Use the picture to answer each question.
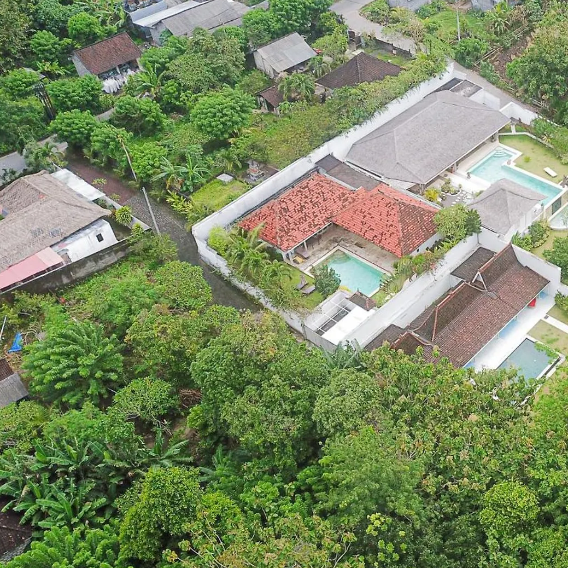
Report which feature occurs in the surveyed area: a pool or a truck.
pool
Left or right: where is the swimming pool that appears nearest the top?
right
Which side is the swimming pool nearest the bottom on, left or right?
right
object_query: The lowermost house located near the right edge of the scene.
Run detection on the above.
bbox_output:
[362,235,552,391]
